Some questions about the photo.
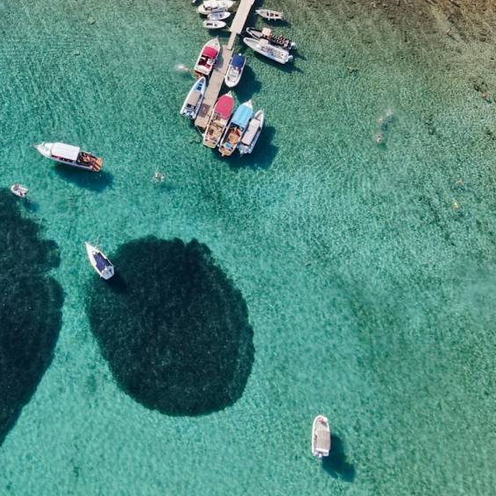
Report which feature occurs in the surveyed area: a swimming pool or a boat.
boat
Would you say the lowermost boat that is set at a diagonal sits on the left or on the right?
left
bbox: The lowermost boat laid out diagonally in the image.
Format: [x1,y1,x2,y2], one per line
[85,236,112,277]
